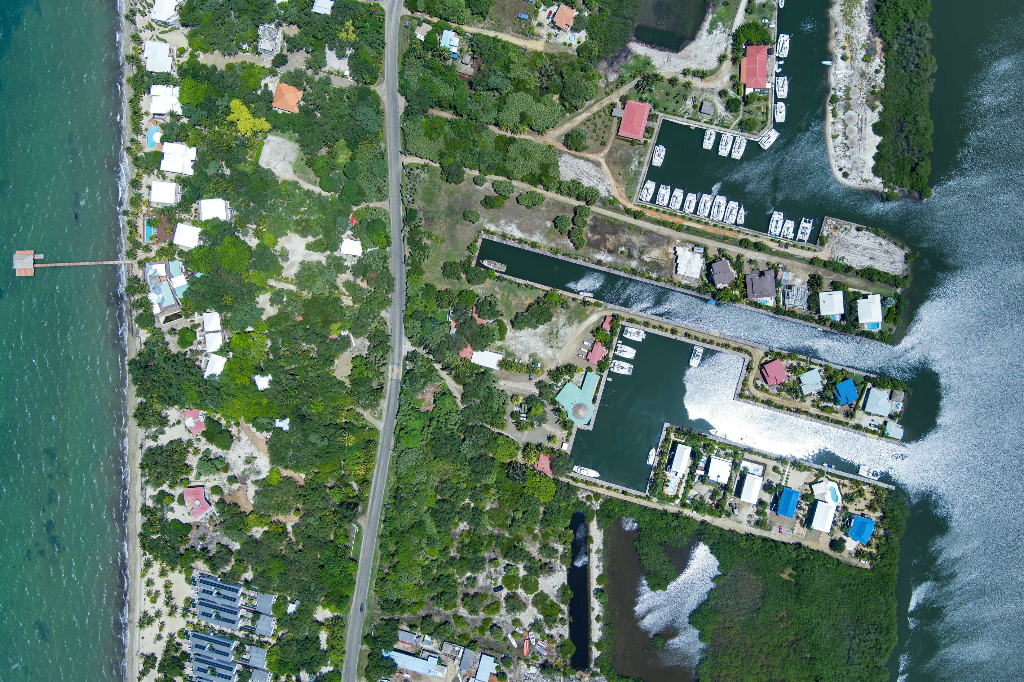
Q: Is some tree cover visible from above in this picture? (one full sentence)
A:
Yes, there's tree cover in this view.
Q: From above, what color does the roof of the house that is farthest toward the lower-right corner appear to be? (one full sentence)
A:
The roof of the house that is farthest toward the lower-right corner is blue.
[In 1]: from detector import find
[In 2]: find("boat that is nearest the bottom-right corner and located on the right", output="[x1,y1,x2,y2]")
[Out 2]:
[857,467,881,481]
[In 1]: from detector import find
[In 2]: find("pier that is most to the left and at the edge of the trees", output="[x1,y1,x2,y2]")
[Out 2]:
[16,250,136,276]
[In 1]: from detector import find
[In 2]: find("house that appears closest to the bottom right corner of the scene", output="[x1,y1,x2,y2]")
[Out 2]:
[844,514,875,545]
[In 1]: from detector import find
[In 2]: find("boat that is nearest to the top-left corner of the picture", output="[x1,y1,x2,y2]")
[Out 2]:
[479,260,508,273]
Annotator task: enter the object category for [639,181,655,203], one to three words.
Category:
boat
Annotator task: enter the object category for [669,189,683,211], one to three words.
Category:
boat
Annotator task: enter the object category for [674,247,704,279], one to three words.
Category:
house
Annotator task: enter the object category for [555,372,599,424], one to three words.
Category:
building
